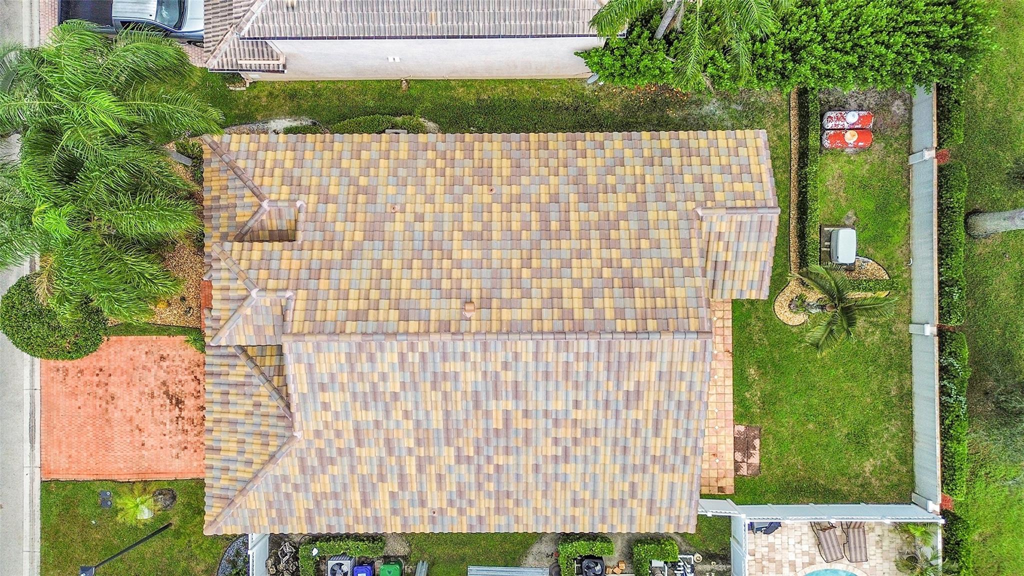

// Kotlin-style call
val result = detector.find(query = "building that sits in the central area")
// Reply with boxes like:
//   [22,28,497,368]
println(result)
[199,129,782,537]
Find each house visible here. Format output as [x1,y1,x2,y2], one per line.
[198,0,626,94]
[199,129,782,537]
